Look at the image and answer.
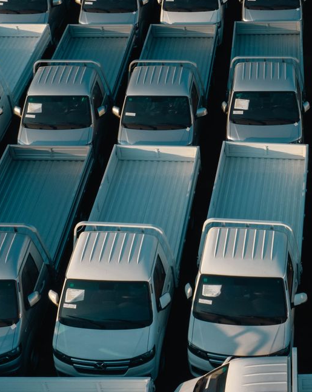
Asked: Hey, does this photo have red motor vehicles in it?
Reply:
No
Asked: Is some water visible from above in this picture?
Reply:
No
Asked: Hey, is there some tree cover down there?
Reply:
No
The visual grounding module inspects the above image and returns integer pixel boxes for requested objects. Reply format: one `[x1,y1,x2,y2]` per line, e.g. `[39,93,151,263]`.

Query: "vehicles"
[77,0,152,48]
[113,28,215,152]
[181,147,308,381]
[155,0,230,47]
[16,28,135,169]
[0,150,98,379]
[0,27,49,162]
[0,0,69,49]
[49,149,202,385]
[219,24,312,149]
[238,0,310,24]
[179,352,312,392]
